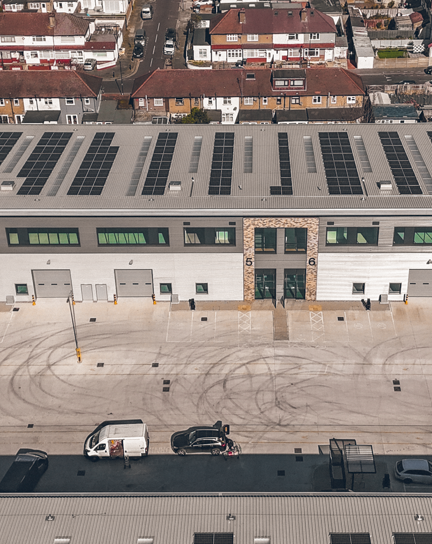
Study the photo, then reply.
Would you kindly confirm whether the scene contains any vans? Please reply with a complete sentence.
Yes, I can see a van in this picture.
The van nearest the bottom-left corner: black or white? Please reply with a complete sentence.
The van nearest the bottom-left corner looks black in the image.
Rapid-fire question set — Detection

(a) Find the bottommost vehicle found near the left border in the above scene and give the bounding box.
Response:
[0,448,57,494]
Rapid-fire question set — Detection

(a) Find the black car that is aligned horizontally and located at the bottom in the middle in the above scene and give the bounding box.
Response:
[176,428,239,458]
